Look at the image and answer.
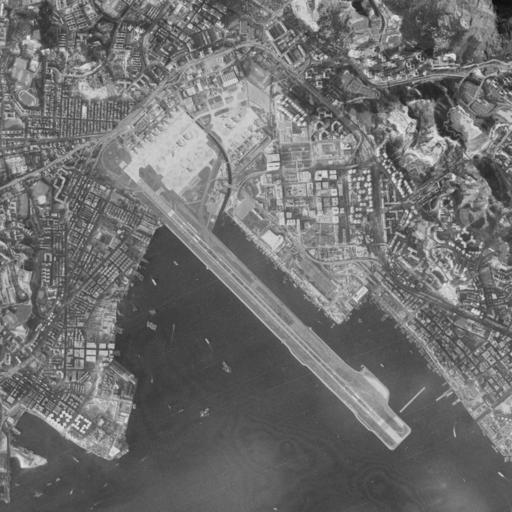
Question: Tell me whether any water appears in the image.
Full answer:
Yes, there's water in this view.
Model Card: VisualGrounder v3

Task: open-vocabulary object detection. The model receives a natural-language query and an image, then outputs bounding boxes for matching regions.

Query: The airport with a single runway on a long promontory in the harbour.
[101,100,409,448]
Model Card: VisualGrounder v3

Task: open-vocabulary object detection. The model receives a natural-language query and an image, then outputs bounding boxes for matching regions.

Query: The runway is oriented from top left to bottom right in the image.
[132,176,402,444]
